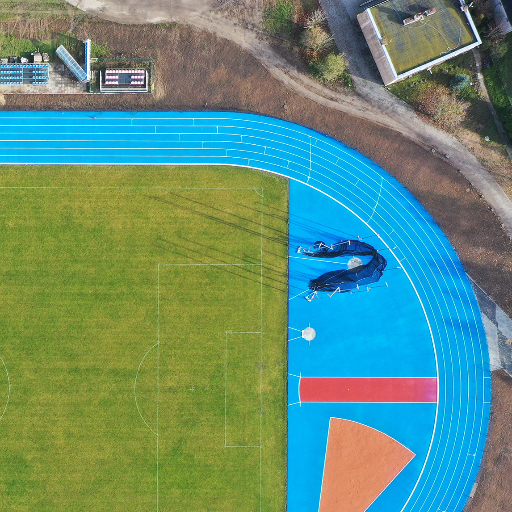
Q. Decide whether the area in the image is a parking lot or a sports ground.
sports ground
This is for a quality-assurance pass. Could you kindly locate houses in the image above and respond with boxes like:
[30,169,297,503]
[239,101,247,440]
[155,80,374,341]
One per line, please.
[352,0,483,86]
[490,0,512,34]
